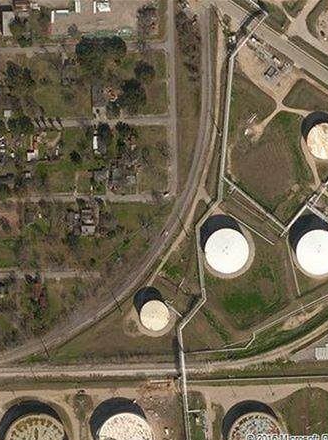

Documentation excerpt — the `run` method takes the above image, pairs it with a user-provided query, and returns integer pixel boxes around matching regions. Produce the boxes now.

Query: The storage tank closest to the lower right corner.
[227,411,286,440]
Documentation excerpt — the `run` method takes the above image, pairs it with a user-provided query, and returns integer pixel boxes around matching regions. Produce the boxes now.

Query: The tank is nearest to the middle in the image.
[205,228,251,275]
